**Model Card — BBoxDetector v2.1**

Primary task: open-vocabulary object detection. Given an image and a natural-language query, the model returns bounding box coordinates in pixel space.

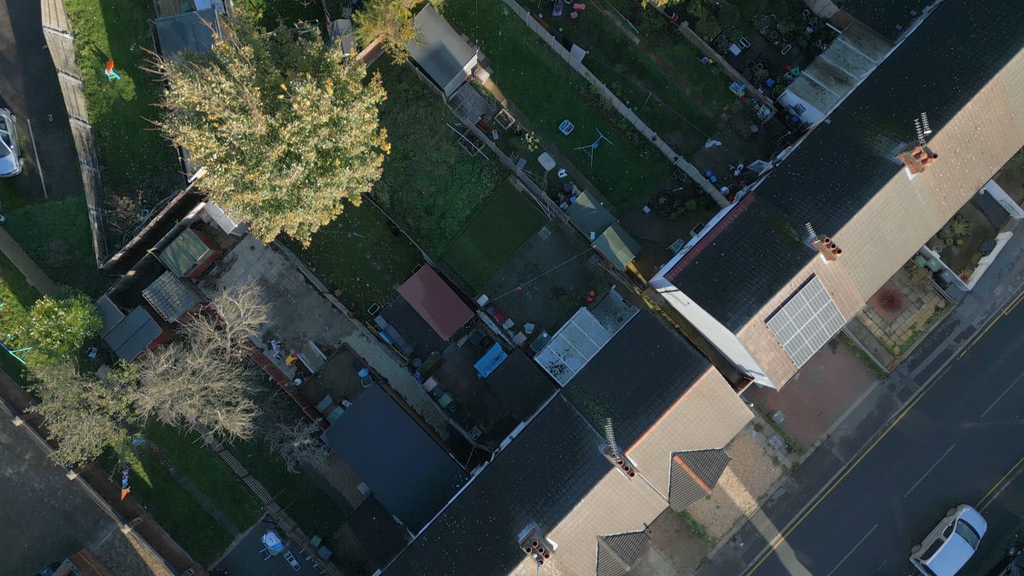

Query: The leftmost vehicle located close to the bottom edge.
[910,506,989,576]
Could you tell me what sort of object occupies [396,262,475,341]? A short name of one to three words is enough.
house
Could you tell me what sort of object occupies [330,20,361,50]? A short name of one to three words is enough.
shed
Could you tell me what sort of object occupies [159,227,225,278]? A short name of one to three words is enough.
shed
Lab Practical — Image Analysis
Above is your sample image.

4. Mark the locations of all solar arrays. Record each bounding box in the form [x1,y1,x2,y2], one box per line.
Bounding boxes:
[764,272,851,372]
